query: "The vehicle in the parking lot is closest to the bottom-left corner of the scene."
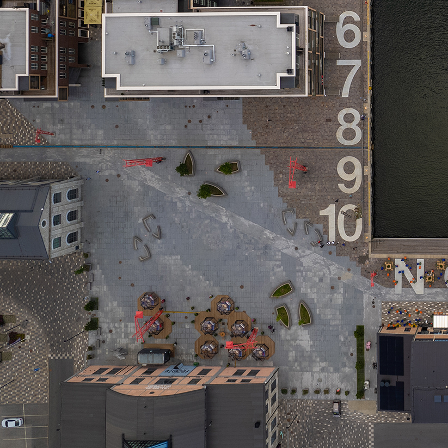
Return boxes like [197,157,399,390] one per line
[0,418,23,431]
